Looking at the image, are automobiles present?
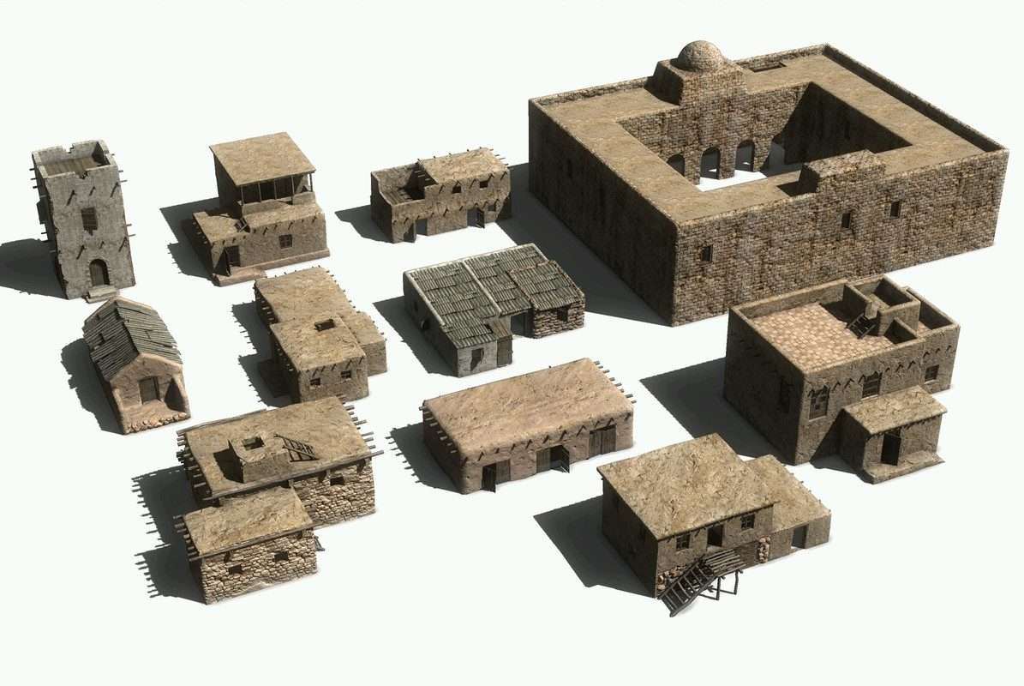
No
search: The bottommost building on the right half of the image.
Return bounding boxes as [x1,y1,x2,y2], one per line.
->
[598,434,832,597]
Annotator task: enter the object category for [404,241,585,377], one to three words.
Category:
house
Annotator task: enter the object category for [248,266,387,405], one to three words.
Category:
house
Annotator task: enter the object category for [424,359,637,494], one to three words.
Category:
barn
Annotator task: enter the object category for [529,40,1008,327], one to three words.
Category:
building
